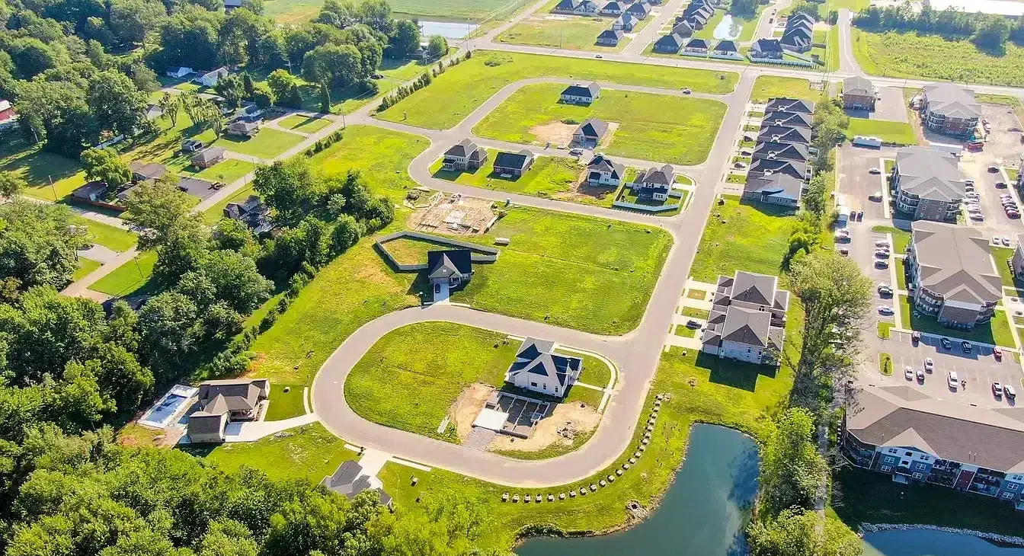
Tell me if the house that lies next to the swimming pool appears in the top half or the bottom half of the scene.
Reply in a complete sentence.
The house that lies next to the swimming pool sits in the bottom half of the picture.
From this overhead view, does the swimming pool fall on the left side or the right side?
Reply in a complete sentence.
The swimming pool appears in the left half of the scene.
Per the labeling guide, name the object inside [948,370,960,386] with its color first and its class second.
white vehicle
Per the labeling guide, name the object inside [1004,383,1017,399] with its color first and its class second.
white vehicle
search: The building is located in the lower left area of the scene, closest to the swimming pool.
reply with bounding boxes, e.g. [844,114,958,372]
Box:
[183,372,284,442]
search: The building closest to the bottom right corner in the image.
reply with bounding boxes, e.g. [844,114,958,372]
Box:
[839,376,1024,503]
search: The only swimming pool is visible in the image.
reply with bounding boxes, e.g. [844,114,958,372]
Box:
[145,394,188,424]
